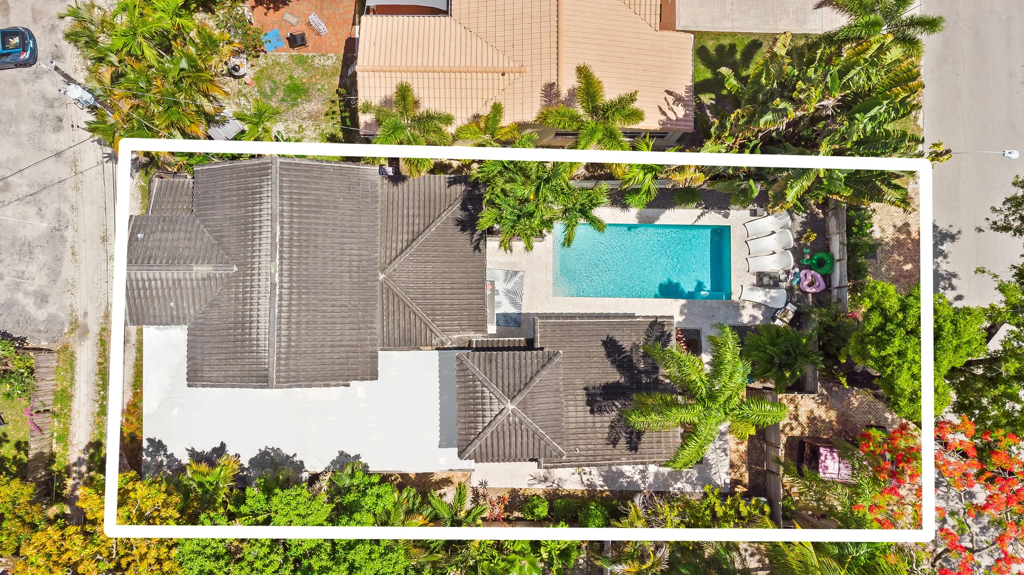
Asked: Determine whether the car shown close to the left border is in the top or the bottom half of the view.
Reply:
top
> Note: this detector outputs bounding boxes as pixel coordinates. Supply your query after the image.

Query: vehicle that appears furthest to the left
[0,30,44,77]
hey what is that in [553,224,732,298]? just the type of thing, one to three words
swimming pool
